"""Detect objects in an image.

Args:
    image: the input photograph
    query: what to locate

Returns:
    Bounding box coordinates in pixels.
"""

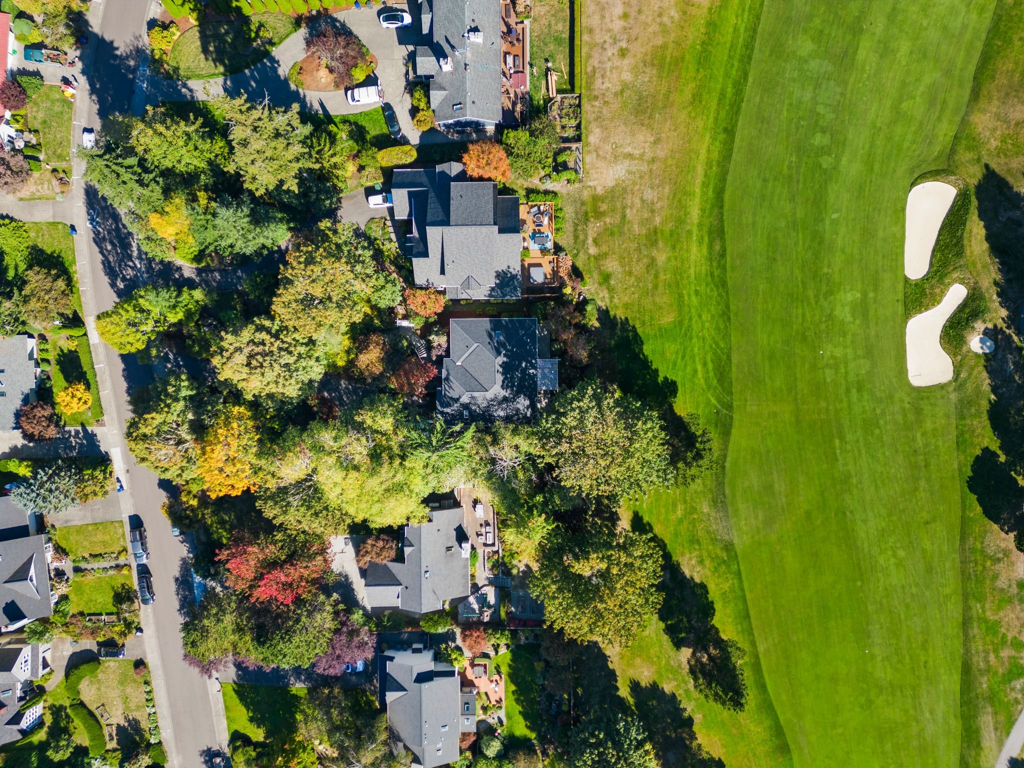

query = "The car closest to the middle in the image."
[370,194,392,208]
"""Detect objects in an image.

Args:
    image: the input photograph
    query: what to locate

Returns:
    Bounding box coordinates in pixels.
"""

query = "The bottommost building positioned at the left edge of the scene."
[0,679,47,745]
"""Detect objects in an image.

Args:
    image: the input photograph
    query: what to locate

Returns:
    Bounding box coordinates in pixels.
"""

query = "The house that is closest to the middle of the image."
[436,318,538,426]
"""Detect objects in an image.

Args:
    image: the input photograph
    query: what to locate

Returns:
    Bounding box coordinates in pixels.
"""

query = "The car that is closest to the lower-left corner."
[97,645,127,660]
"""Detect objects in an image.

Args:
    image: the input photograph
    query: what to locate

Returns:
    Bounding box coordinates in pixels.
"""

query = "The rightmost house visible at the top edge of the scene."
[414,0,502,129]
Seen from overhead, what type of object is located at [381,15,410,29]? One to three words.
car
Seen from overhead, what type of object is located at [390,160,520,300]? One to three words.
house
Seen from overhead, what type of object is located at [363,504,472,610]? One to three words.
house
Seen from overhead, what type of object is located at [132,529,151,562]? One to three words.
vehicle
